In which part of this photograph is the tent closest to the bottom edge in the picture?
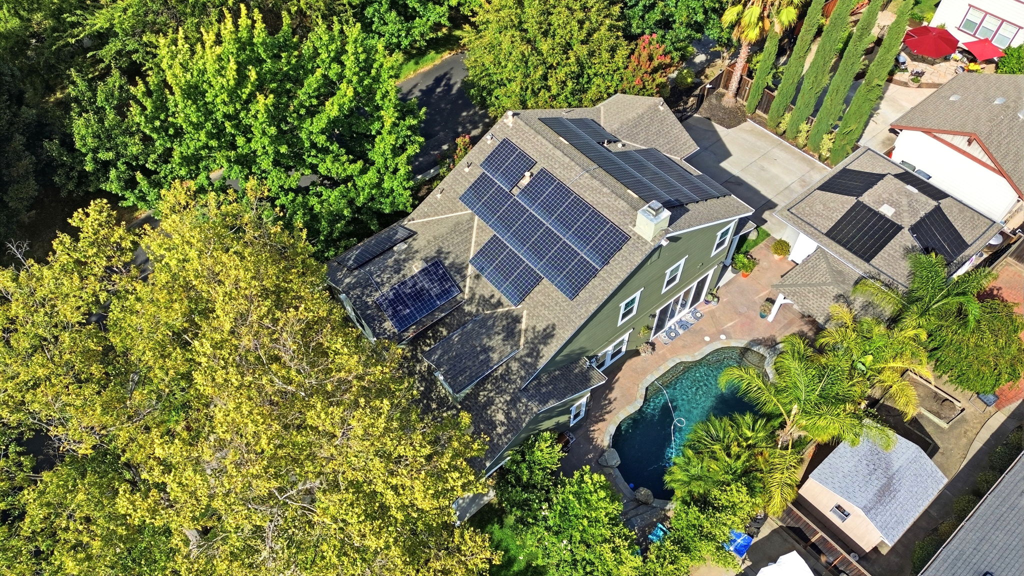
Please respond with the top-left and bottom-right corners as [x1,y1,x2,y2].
[765,549,826,576]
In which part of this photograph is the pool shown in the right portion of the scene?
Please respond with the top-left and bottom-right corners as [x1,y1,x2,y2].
[604,340,777,545]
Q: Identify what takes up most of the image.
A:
trees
